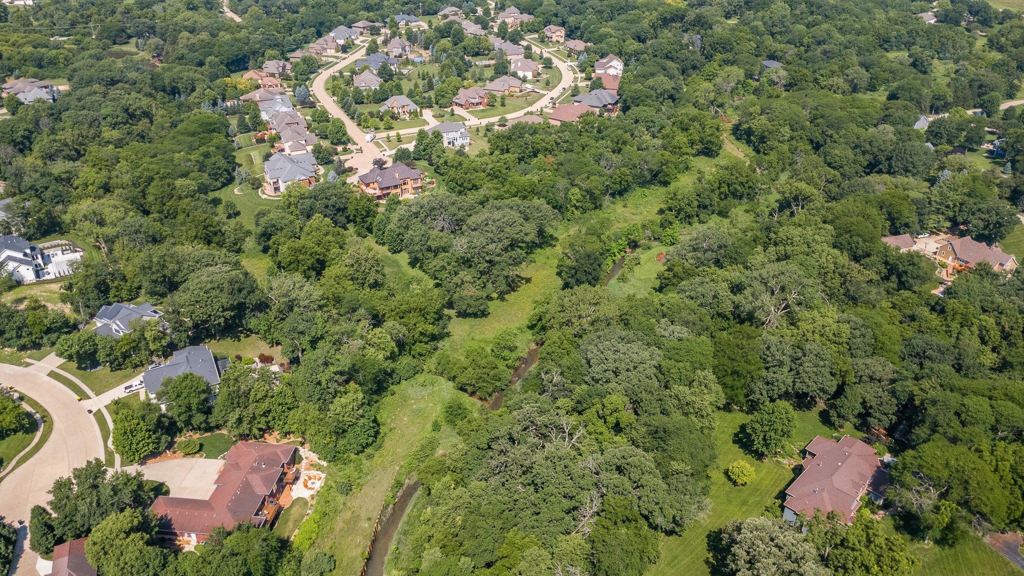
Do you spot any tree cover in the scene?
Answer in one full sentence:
Yes, some tree cover is visible.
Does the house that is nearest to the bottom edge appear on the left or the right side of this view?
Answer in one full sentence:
The house that is nearest to the bottom edge sits on the left side.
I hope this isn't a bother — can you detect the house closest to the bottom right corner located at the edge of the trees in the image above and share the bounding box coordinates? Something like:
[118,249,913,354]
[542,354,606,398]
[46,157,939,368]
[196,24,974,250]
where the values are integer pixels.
[783,435,890,546]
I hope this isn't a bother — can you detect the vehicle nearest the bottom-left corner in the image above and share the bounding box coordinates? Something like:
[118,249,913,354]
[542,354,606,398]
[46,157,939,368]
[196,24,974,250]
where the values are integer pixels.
[121,380,145,393]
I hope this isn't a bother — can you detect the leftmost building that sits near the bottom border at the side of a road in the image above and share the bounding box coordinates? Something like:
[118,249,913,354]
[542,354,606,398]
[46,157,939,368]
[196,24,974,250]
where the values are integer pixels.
[45,536,90,576]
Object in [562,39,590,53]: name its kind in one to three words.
house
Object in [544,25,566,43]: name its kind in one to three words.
house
